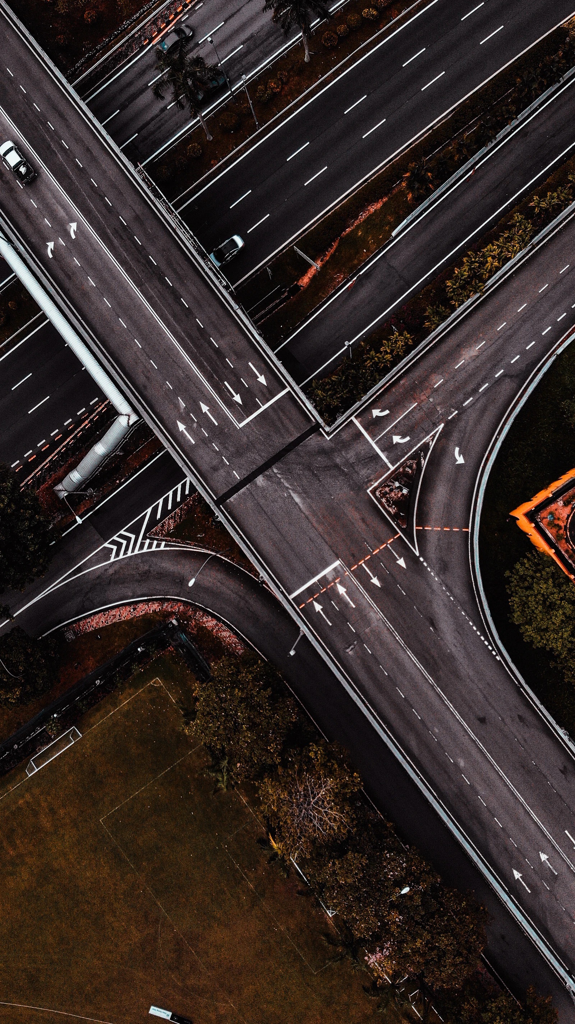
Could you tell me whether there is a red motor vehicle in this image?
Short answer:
No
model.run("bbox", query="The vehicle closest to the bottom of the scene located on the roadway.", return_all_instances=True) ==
[210,235,244,266]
